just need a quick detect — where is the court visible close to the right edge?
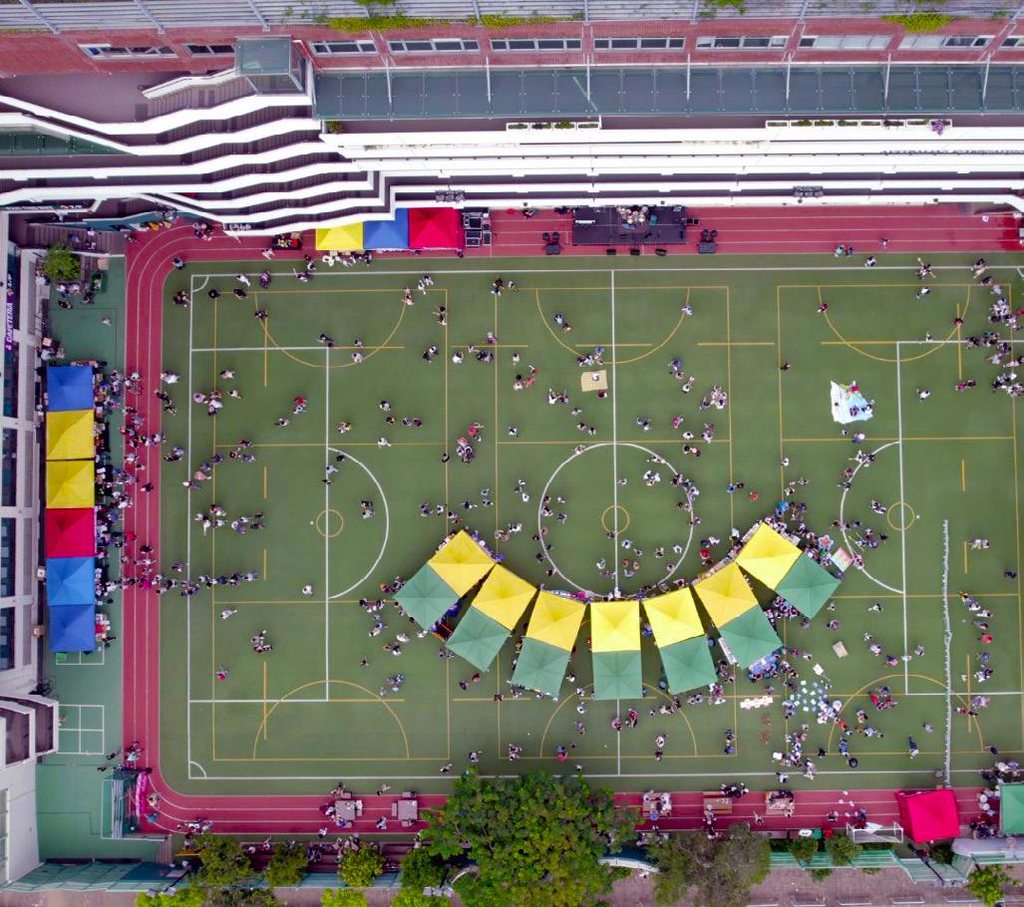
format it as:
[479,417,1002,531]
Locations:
[776,282,1024,757]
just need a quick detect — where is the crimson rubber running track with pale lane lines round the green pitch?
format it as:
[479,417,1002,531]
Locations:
[122,178,1024,835]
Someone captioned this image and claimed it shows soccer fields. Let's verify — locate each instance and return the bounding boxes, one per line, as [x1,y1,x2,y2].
[161,251,1024,797]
